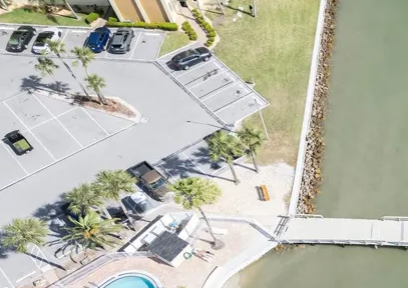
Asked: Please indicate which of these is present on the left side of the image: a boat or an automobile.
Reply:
automobile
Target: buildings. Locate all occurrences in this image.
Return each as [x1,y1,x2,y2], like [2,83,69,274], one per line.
[0,0,233,26]
[121,209,198,268]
